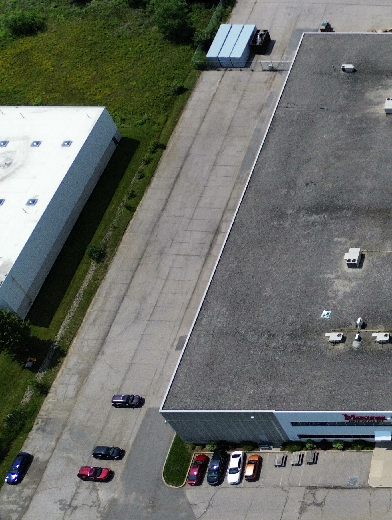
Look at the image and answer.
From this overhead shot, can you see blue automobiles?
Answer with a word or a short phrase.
Yes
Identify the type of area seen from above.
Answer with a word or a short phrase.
industrial area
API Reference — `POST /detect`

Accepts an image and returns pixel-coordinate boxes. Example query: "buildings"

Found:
[160,32,392,451]
[0,106,124,313]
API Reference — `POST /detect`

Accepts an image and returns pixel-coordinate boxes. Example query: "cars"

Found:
[245,455,262,482]
[228,453,246,484]
[111,393,143,408]
[77,465,112,481]
[188,455,209,485]
[207,452,228,486]
[90,445,124,461]
[7,454,30,482]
